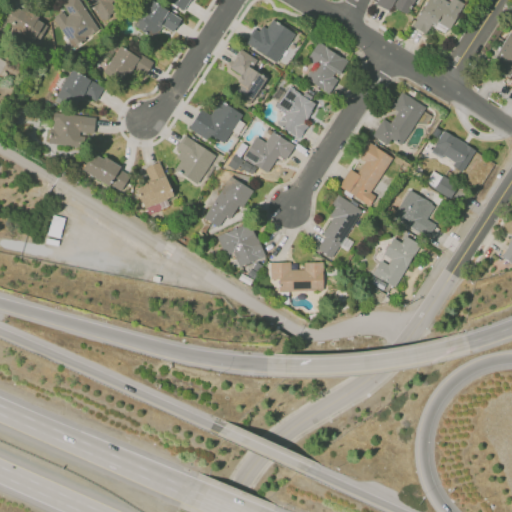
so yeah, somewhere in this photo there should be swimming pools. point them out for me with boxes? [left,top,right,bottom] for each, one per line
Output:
[246,121,264,142]
[216,138,235,154]
[292,298,314,310]
[264,104,277,123]
[408,128,424,146]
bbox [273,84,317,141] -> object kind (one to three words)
house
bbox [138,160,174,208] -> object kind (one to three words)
house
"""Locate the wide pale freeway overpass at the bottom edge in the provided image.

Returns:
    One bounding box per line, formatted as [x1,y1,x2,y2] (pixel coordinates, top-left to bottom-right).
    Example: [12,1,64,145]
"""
[196,476,302,512]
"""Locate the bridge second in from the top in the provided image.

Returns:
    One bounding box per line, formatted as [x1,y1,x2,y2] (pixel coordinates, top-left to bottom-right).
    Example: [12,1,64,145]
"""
[215,422,301,470]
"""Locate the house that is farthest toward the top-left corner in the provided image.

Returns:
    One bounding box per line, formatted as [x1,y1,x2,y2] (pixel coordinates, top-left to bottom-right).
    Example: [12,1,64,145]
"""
[5,8,48,38]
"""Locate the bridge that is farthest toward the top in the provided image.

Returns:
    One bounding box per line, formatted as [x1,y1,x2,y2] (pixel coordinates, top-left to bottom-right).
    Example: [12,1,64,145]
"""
[266,330,474,378]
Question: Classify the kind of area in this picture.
residential area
